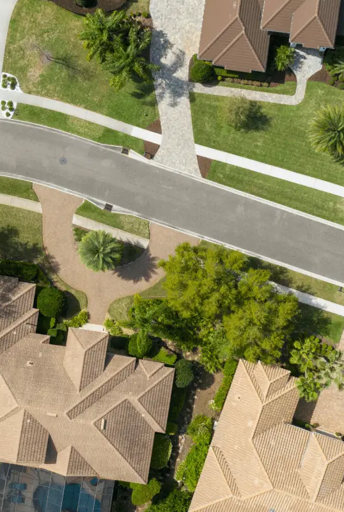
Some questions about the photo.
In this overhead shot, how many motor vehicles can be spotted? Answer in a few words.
zero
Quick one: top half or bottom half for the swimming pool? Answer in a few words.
bottom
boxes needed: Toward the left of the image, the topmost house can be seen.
[0,275,175,486]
